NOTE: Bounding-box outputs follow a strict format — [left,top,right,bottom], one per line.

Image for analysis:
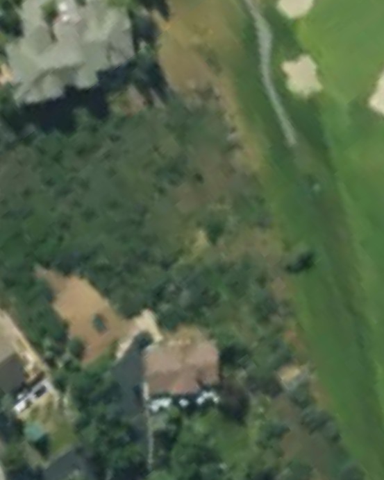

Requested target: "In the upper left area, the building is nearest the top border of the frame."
[0,2,138,105]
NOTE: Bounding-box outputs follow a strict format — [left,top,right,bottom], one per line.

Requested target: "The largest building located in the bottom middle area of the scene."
[143,326,219,405]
